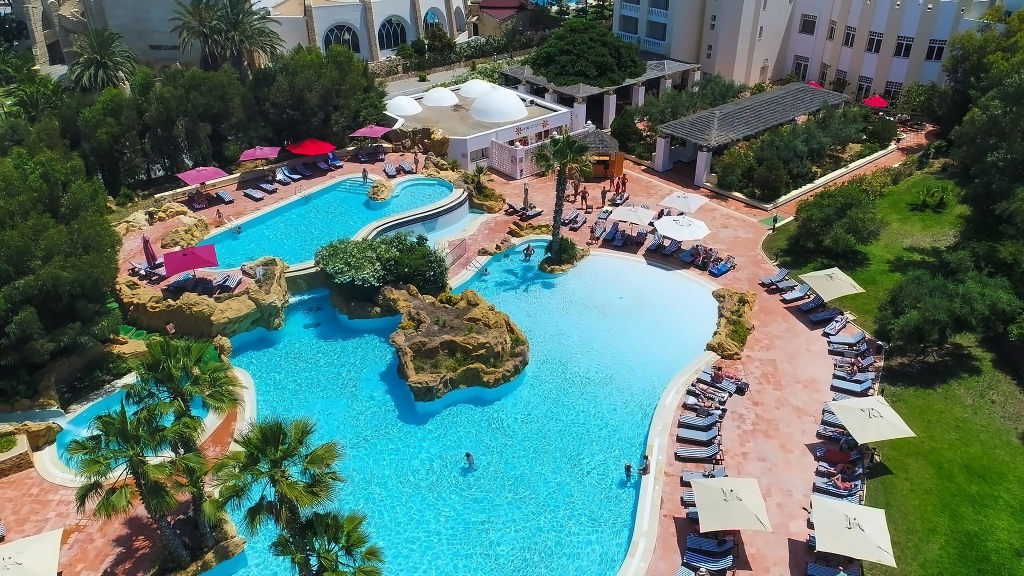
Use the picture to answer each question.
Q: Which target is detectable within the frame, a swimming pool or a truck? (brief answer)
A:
swimming pool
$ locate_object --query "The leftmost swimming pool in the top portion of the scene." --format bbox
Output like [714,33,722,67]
[204,178,455,269]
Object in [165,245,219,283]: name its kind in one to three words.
umbrella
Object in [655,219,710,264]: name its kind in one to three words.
umbrella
